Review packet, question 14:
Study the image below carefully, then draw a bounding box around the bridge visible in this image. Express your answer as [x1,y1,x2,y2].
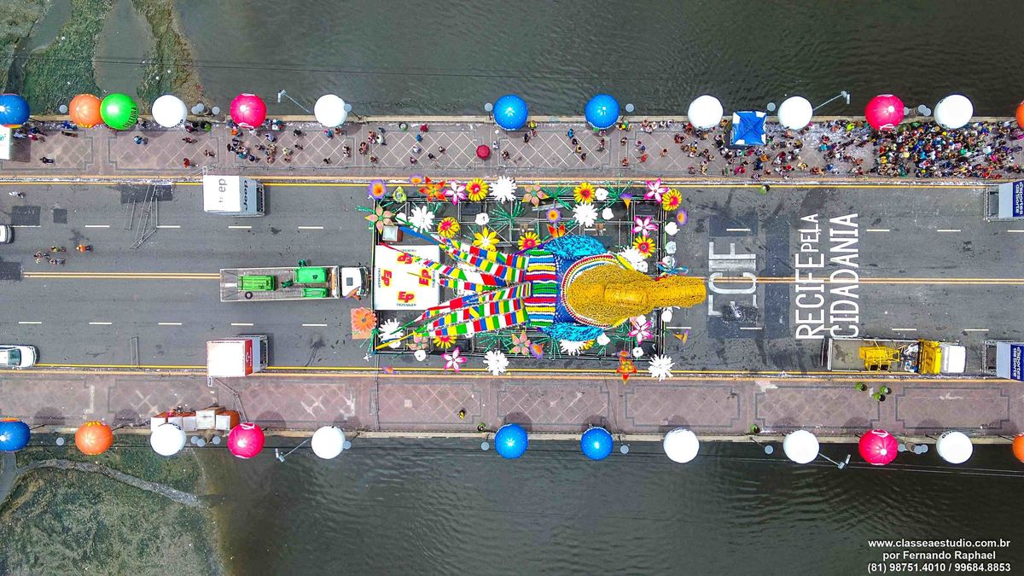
[0,114,1024,445]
